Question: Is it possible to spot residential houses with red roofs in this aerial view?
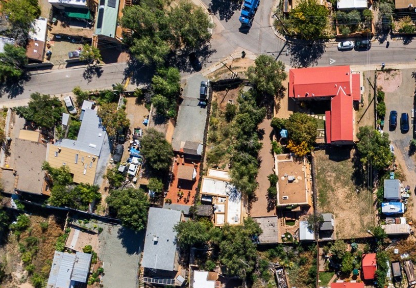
Yes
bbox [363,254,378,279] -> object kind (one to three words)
shed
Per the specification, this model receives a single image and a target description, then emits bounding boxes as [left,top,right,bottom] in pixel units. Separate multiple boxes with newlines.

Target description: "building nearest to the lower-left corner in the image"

[48,251,96,288]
